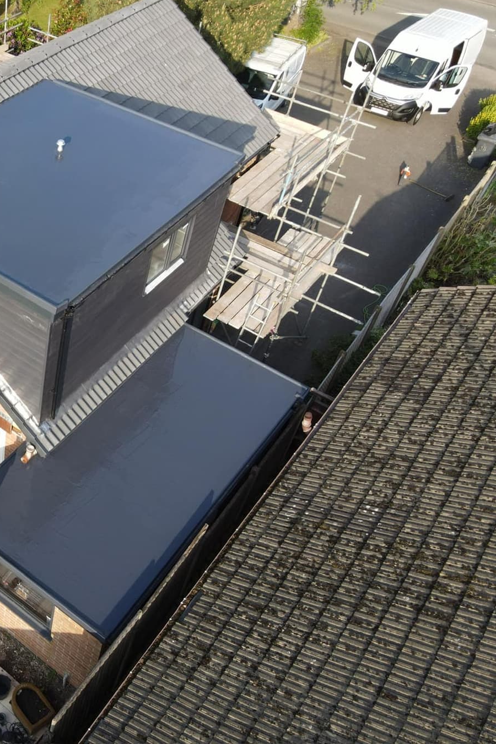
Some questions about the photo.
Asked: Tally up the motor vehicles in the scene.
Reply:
2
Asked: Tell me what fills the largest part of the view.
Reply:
buildings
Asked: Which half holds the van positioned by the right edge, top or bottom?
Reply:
top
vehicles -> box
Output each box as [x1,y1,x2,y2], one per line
[230,32,310,115]
[336,5,488,129]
